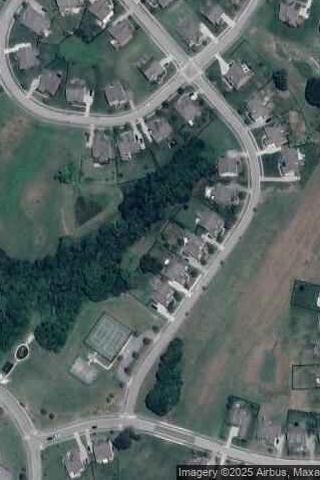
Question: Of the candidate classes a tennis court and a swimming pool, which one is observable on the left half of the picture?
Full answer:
There is a tennis court on the left half of the picture.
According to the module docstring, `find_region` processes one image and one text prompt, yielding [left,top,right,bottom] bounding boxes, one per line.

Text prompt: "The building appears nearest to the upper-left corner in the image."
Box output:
[22,8,51,36]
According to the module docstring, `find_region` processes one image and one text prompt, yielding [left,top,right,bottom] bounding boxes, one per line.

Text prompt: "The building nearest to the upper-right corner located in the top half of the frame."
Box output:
[279,2,307,27]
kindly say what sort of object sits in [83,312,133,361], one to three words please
tennis court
